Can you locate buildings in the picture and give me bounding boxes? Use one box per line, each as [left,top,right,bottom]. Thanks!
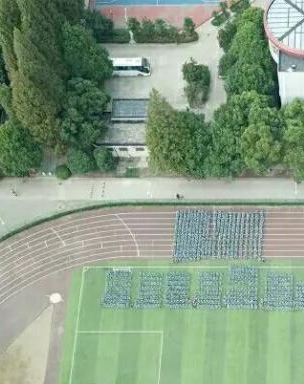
[265,0,304,113]
[95,97,150,156]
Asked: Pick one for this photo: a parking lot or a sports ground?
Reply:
sports ground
